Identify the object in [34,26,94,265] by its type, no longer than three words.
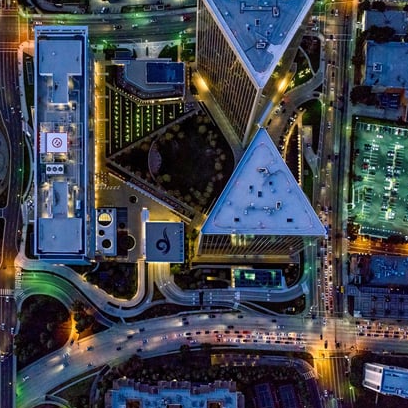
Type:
building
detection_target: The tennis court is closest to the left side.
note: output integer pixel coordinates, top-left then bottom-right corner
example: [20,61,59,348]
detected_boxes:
[248,378,280,408]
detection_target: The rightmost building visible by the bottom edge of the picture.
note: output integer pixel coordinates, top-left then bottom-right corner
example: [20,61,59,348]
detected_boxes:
[356,361,408,398]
